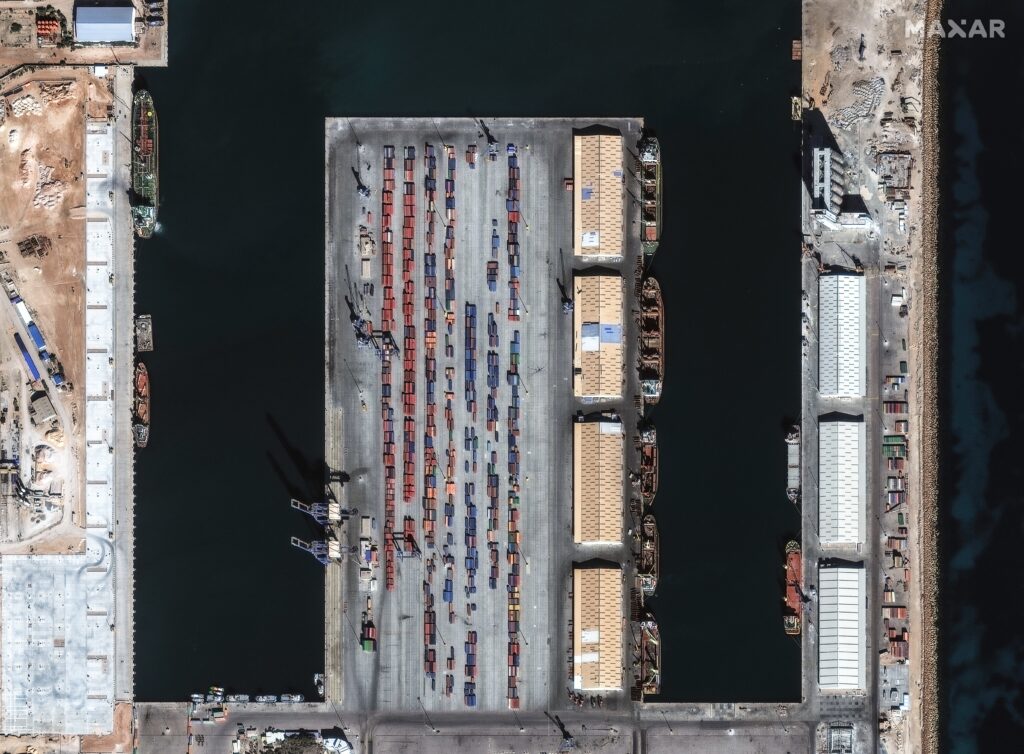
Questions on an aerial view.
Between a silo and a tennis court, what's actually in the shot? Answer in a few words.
silo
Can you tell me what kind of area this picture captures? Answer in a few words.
port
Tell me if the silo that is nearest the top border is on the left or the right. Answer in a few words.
right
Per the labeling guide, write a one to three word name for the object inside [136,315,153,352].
ship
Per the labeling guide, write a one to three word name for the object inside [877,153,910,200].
building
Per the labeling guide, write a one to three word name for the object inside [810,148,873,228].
silo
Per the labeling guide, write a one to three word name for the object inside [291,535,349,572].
container crane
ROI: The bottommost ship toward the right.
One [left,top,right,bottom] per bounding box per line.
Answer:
[641,612,662,695]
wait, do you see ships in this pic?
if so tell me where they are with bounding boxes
[784,540,802,636]
[642,424,660,504]
[136,315,153,352]
[639,277,665,405]
[785,424,801,503]
[792,40,802,60]
[792,97,801,120]
[639,137,663,273]
[638,514,660,597]
[641,612,662,695]
[135,362,151,448]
